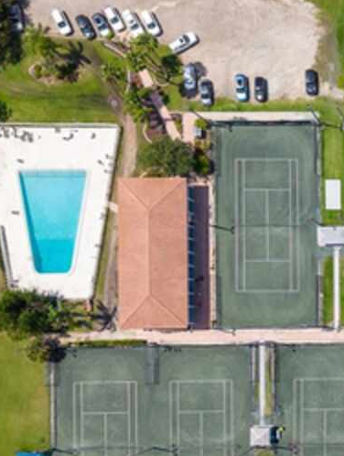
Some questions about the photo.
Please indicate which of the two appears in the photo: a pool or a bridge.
pool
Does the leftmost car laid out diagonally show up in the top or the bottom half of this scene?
top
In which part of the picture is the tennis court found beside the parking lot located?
right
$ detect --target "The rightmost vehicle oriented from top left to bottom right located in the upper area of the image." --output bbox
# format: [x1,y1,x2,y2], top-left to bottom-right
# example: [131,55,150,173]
[139,10,160,37]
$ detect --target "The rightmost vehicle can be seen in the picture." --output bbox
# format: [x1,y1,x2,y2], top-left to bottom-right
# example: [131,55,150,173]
[304,69,317,96]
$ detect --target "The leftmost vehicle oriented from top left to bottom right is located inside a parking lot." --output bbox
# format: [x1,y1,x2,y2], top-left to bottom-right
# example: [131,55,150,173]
[50,8,73,37]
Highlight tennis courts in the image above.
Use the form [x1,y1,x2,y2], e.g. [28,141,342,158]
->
[215,121,318,328]
[51,345,152,456]
[151,345,255,456]
[272,343,344,456]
